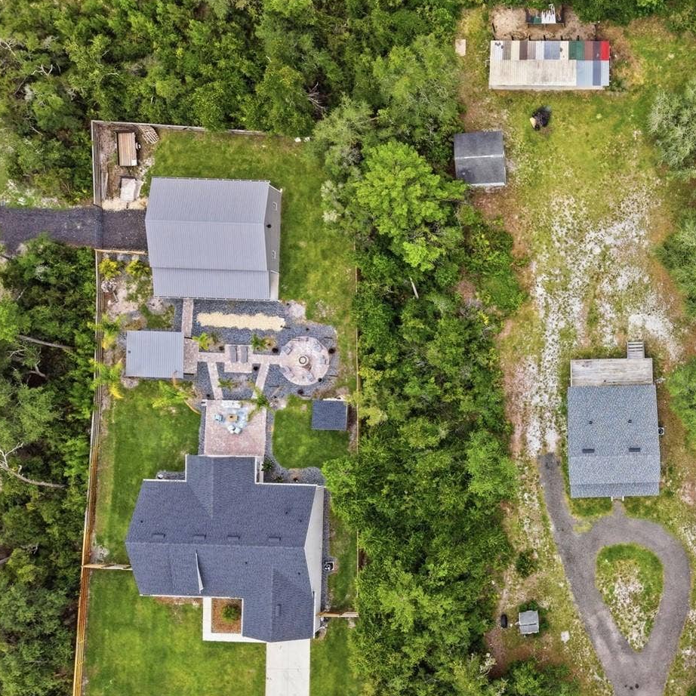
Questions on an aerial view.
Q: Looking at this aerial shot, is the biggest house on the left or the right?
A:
left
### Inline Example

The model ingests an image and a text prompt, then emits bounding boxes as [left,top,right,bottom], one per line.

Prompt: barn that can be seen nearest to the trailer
[145,177,281,302]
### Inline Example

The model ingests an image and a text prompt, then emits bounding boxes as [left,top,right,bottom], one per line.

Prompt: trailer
[114,132,143,176]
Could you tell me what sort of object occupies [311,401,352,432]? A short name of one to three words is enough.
shed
